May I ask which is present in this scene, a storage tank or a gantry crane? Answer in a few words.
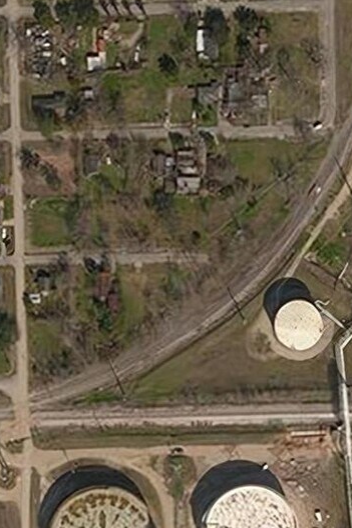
storage tank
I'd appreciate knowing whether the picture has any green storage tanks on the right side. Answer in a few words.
No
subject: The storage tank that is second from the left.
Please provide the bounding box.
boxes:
[202,486,297,528]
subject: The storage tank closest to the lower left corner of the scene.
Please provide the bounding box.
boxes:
[52,488,149,528]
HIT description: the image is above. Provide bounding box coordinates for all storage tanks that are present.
[202,486,297,528]
[273,297,324,350]
[52,488,149,528]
